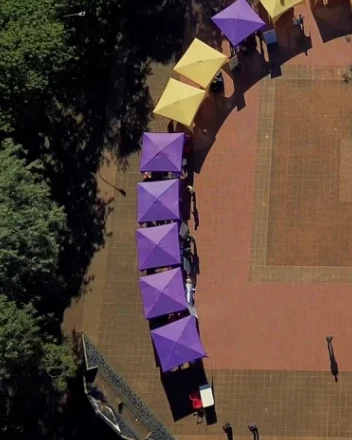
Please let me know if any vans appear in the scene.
No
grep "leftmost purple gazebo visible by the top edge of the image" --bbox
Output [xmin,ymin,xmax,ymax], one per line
[211,0,267,55]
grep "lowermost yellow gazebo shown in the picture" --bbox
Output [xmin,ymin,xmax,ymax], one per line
[152,77,211,137]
